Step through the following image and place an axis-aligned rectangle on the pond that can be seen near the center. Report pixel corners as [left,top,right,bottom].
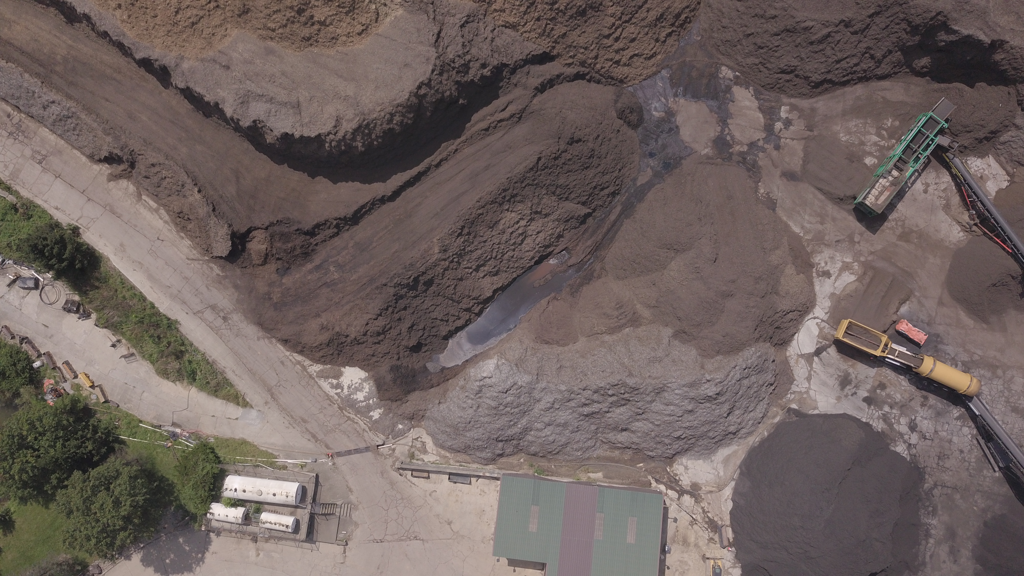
[424,248,602,374]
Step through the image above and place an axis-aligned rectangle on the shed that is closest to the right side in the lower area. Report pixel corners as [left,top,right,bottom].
[492,456,674,576]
